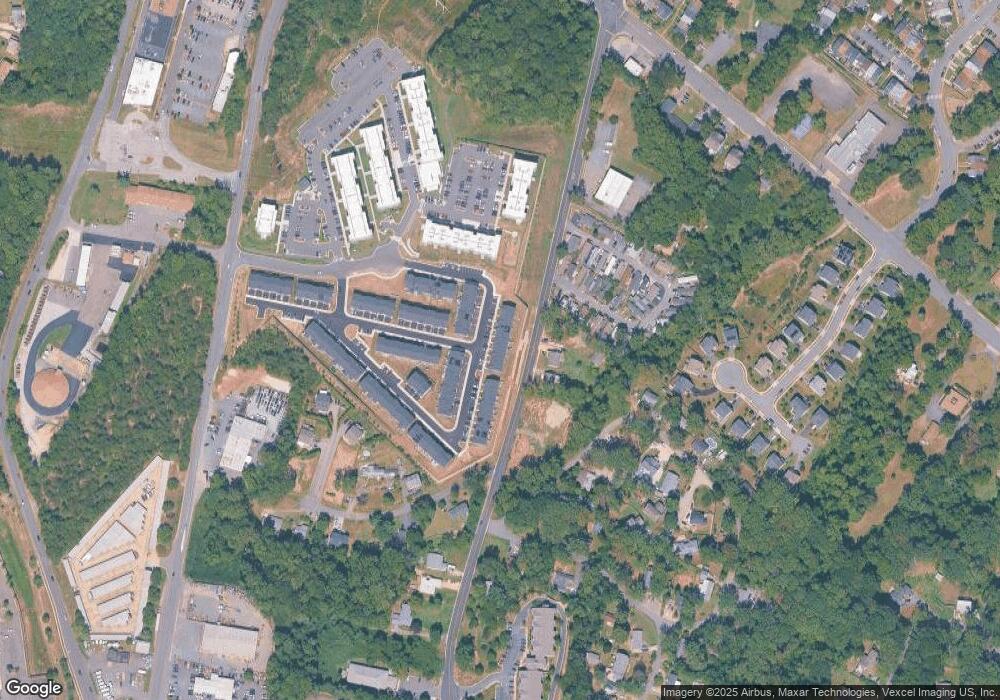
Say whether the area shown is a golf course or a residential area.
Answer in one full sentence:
The picture captures a residential area.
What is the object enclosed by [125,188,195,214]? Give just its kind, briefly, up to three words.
shed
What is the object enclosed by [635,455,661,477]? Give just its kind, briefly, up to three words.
house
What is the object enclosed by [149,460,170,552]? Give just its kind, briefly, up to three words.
building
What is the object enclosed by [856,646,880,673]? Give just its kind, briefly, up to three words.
house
